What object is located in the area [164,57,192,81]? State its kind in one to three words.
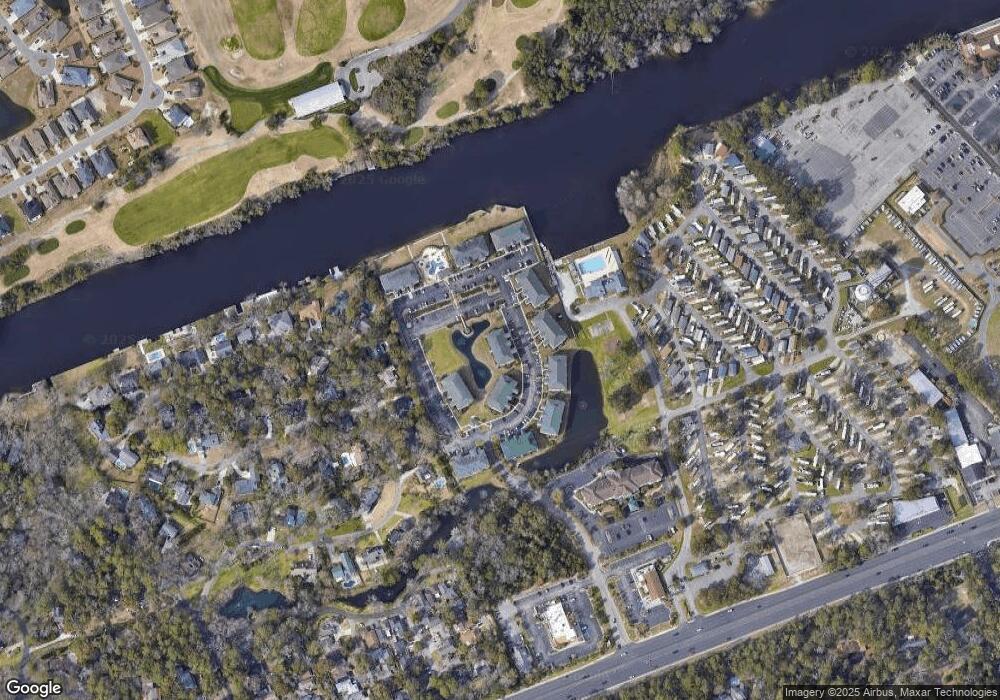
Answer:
house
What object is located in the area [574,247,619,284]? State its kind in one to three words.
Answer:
swimming pool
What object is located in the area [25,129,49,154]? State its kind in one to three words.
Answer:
house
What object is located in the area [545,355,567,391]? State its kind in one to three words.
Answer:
building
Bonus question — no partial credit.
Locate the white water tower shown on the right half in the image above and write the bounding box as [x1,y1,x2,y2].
[854,283,875,312]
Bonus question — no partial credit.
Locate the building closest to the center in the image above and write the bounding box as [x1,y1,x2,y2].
[483,328,519,369]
